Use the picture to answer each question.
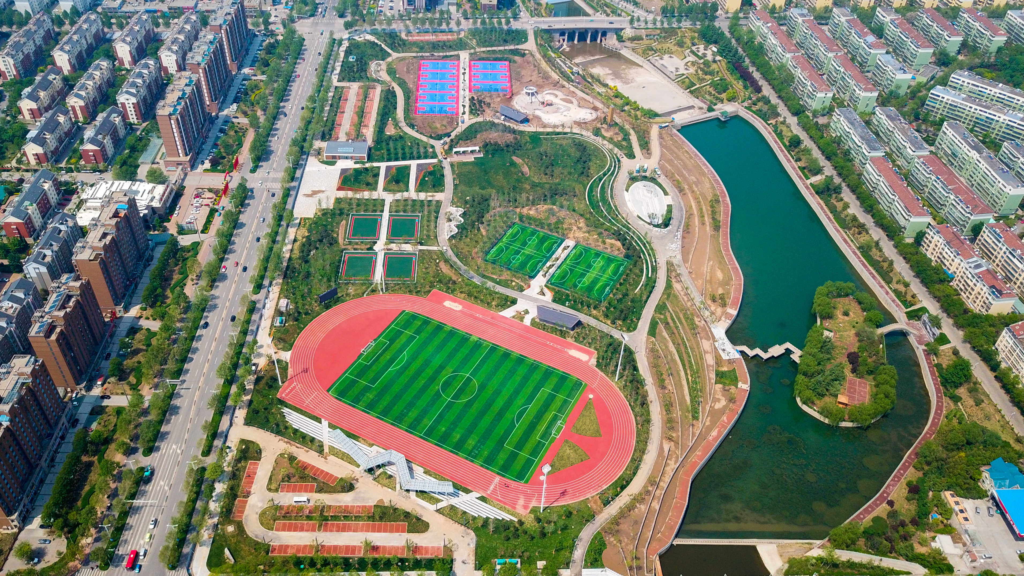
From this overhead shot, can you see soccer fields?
Yes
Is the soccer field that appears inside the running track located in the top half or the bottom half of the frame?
bottom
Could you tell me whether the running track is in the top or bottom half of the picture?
bottom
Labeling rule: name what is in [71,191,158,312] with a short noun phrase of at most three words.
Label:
building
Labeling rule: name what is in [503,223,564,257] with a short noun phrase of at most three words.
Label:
soccer field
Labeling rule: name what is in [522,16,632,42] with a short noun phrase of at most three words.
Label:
bridge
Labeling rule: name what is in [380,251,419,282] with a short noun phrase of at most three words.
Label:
sports court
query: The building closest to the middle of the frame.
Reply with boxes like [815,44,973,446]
[537,305,580,332]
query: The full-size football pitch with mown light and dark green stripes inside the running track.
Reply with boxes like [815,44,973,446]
[321,306,590,487]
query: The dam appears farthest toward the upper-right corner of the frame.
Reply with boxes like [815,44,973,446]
[671,107,742,129]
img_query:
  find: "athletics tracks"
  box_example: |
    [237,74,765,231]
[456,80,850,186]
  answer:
[272,289,634,515]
